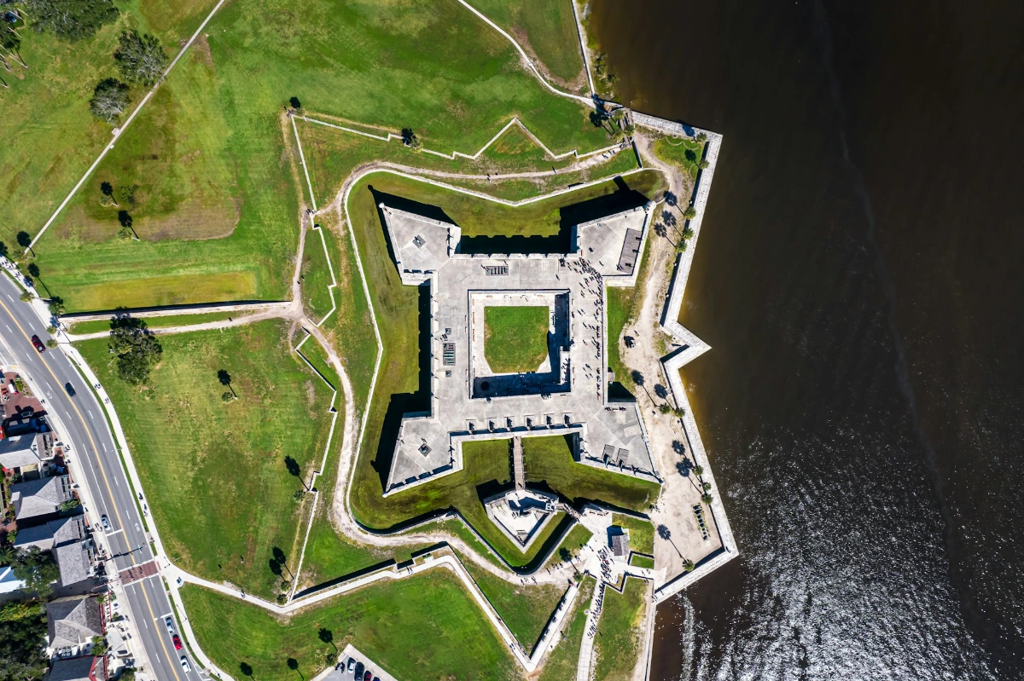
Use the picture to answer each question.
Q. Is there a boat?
No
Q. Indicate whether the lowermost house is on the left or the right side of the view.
left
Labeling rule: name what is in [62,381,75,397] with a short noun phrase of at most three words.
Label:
vehicle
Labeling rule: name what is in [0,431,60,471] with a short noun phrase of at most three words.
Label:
house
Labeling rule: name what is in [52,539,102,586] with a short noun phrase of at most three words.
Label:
house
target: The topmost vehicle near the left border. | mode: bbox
[29,335,43,351]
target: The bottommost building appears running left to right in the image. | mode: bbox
[44,650,110,681]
